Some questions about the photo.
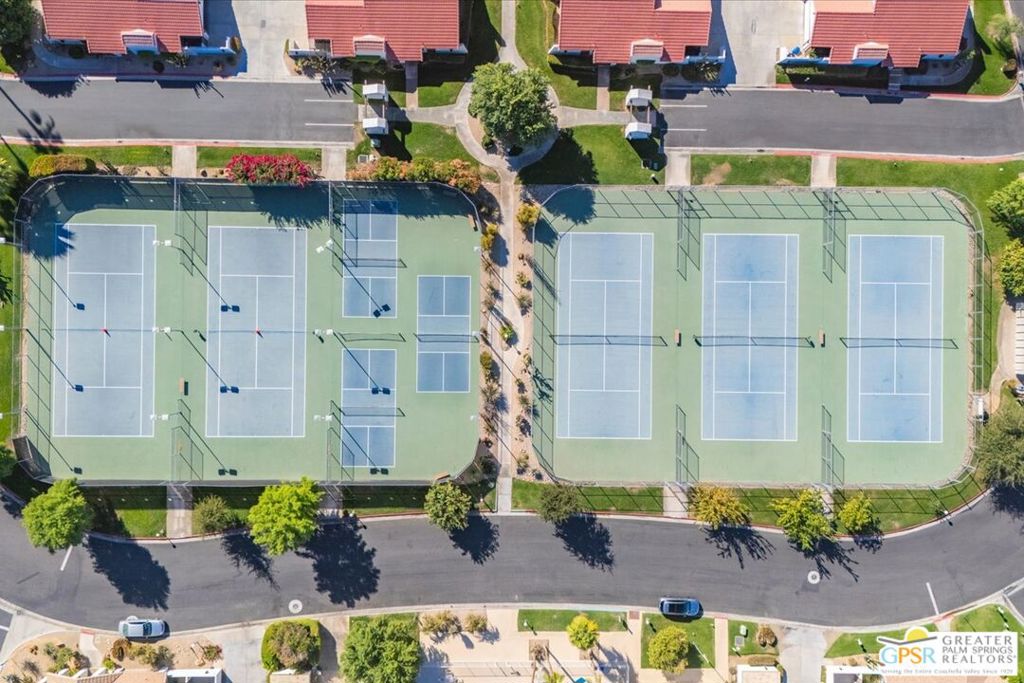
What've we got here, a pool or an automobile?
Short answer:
automobile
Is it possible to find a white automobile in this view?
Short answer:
Yes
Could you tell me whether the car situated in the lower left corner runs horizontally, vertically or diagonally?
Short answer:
horizontally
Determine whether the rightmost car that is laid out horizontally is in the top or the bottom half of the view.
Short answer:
bottom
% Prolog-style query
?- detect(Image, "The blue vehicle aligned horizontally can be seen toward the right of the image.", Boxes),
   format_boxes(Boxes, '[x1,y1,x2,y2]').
[660,597,702,618]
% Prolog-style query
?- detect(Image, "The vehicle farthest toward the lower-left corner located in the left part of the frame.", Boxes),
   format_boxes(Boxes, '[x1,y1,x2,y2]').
[119,618,161,639]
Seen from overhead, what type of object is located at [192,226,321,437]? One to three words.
tennis court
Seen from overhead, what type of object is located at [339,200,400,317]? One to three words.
sports court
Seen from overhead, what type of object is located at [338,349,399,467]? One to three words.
sports court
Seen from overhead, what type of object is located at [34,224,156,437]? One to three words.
tennis court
